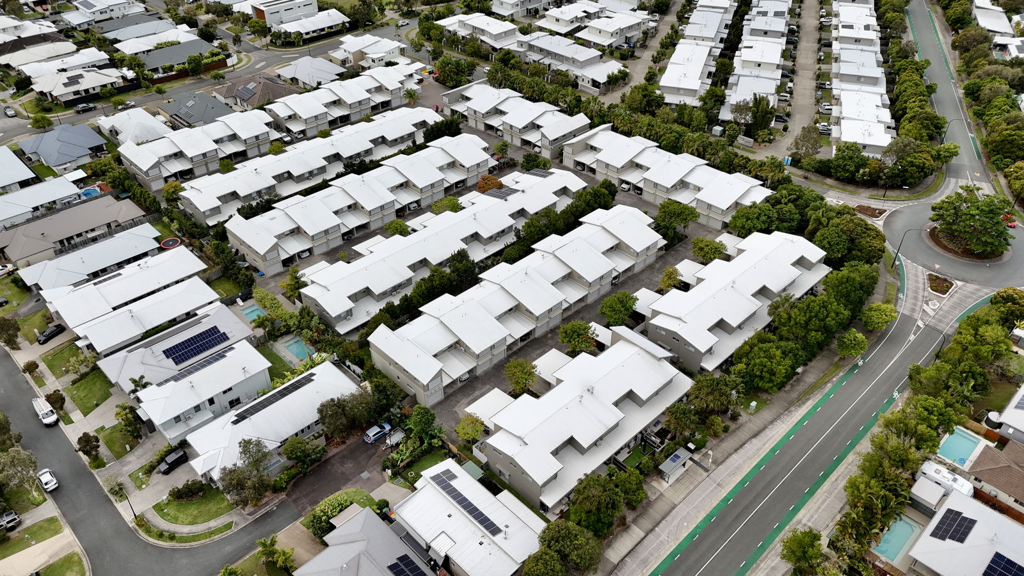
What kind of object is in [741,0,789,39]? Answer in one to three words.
house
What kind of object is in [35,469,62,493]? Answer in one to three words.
car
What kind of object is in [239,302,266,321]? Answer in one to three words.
swimming pool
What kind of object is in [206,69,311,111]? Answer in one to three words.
house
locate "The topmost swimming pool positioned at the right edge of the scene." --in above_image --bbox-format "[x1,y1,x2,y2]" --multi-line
[935,424,984,469]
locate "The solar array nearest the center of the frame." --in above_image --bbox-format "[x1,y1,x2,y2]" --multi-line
[484,186,523,200]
